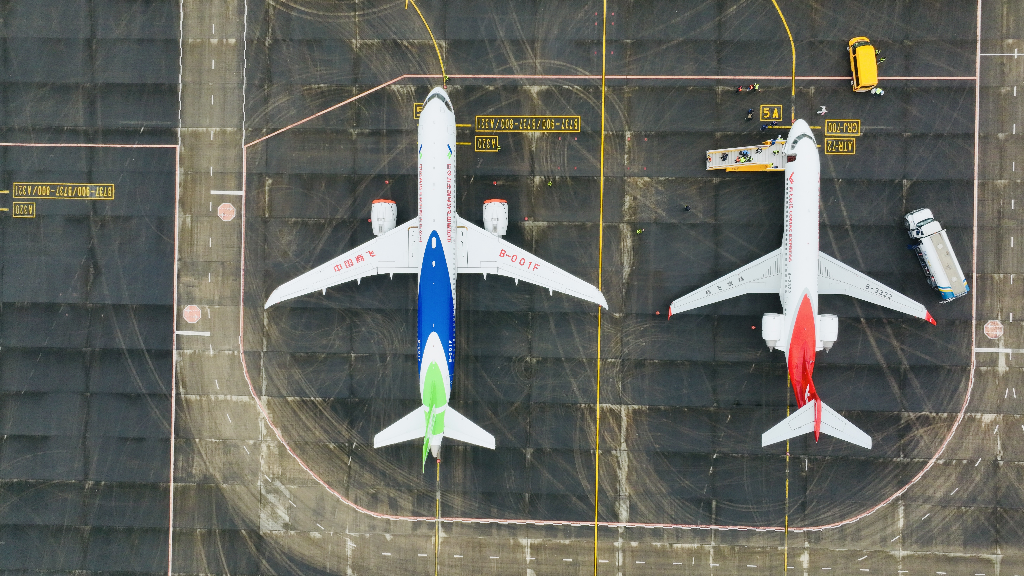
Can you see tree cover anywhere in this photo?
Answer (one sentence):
No, there's no tree cover in this view.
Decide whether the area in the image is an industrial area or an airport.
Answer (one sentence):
The area seen from above is an airport.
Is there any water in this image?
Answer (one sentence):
No, there is no water in the image.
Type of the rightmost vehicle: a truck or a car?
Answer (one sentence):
I'd say the rightmost vehicle is a truck.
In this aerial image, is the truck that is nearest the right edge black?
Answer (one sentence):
No, the truck that is nearest the right edge is actually white.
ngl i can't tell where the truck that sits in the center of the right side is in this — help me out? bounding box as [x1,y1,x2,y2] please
[904,207,968,303]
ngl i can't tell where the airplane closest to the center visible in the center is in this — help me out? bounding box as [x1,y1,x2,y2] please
[263,87,610,471]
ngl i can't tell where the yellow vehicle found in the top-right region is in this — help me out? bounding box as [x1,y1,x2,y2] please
[847,37,877,93]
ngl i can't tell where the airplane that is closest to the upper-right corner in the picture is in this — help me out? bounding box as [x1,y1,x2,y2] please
[671,120,937,450]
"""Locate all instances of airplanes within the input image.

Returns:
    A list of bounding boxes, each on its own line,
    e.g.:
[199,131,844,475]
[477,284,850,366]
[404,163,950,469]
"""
[263,87,610,471]
[671,120,937,450]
